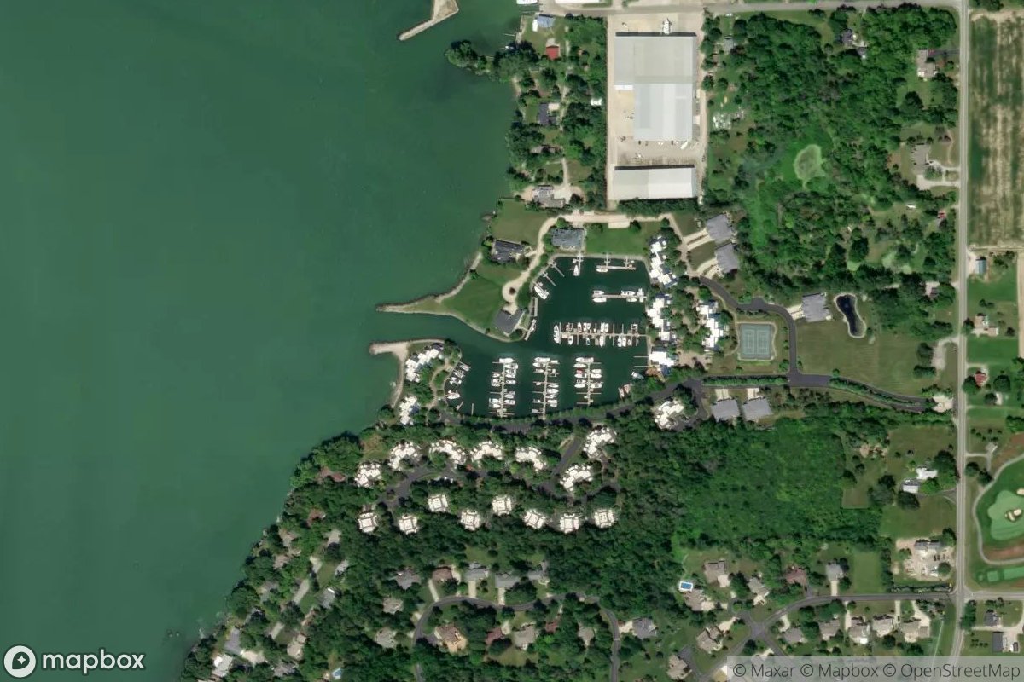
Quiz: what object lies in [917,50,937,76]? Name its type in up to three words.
house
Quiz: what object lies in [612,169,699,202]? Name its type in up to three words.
building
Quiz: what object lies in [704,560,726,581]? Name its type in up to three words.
house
